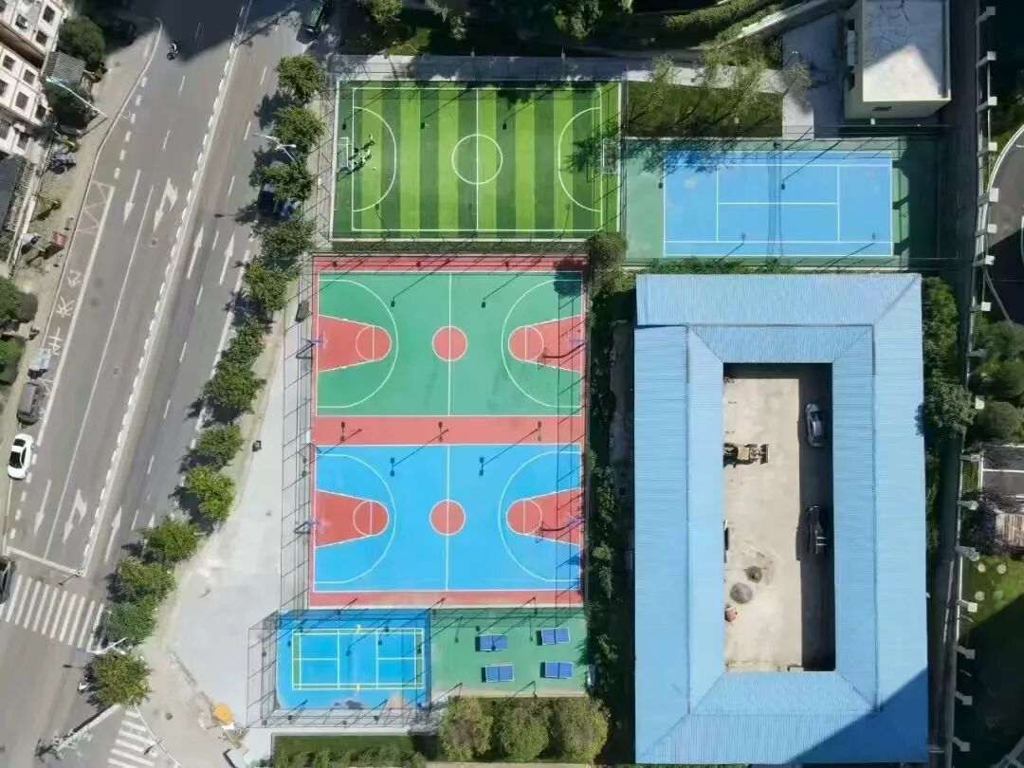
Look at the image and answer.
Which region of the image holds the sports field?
top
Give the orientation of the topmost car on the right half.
up and down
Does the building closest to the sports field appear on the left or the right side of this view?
right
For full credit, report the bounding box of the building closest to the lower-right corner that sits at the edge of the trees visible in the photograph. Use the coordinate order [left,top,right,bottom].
[634,275,929,765]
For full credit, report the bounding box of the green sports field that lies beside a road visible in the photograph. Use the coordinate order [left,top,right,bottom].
[335,81,617,237]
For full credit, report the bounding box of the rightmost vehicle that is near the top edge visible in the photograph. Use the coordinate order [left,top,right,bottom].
[296,0,331,44]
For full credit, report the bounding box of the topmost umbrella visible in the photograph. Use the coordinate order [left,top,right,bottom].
[213,700,234,722]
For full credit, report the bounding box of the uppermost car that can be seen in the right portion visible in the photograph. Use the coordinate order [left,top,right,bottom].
[803,400,826,445]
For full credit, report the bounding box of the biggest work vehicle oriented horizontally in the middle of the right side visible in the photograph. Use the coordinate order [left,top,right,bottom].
[724,444,767,463]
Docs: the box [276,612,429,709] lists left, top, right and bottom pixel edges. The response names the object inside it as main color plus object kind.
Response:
blue sports court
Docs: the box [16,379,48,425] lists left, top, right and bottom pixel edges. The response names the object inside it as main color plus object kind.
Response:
gray car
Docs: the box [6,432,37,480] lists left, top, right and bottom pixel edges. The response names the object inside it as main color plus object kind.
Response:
white car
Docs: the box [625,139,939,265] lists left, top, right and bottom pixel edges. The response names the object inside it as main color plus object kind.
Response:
blue tennis court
